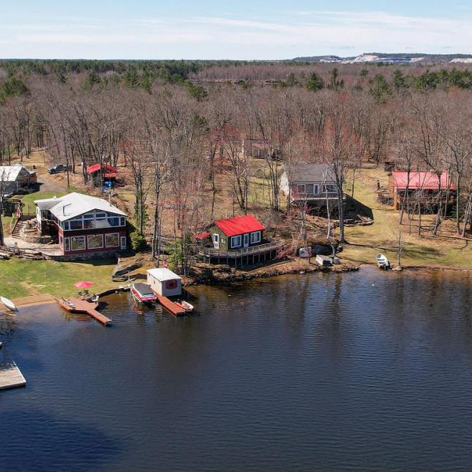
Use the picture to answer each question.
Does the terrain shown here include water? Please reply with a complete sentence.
Yes, the picture does contain water.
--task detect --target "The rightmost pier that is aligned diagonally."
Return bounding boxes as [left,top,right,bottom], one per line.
[159,296,192,317]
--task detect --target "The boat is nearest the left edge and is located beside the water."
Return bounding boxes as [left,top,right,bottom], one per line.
[1,295,18,311]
